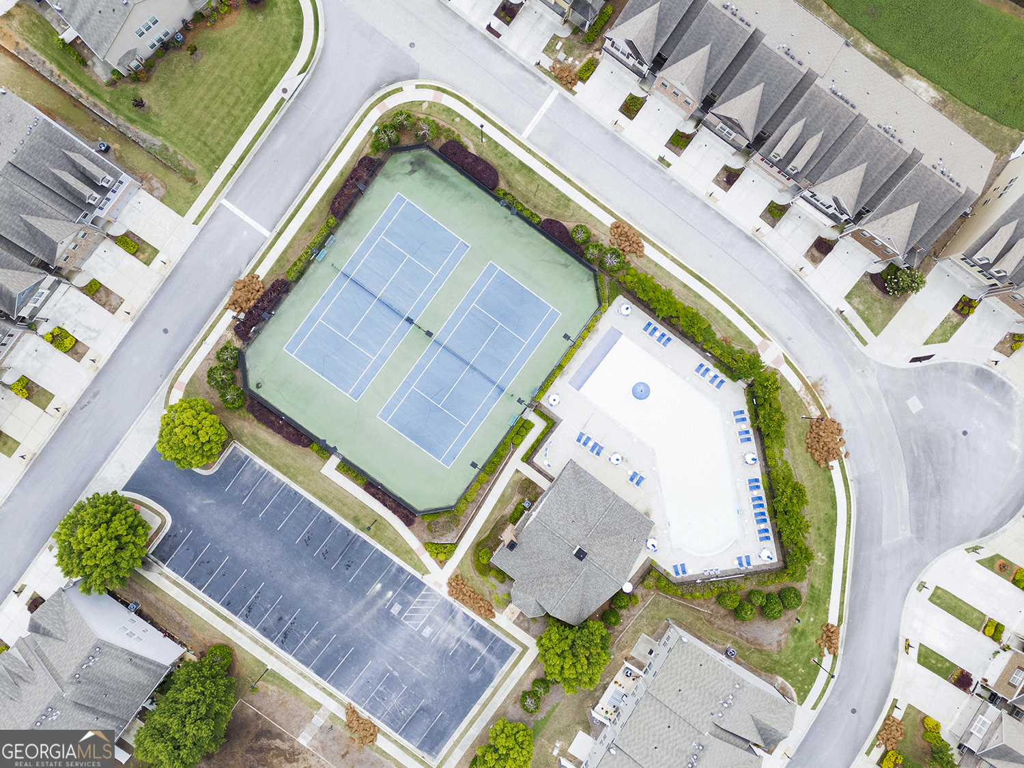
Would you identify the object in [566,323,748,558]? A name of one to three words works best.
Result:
swimming pool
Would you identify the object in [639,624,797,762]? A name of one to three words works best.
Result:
house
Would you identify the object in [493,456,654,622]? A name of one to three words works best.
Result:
building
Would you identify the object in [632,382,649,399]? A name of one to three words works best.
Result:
fountain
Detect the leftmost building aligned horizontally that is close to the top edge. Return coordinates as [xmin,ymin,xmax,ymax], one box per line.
[47,0,217,76]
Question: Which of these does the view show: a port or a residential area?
residential area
